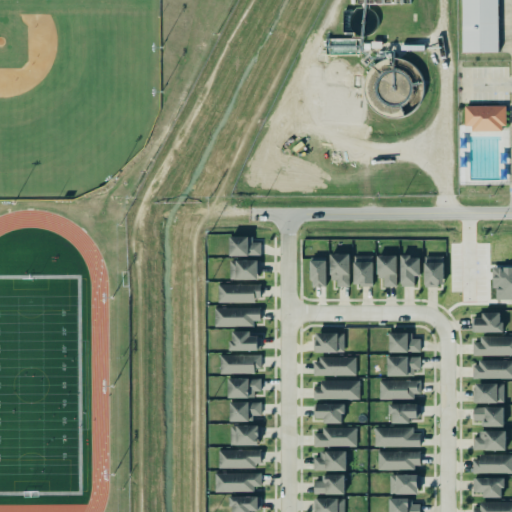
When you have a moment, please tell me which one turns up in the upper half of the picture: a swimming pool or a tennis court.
swimming pool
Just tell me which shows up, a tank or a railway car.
tank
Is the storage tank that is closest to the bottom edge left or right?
right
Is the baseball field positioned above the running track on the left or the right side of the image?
left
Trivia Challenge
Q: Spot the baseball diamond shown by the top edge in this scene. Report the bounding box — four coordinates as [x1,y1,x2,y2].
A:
[0,0,160,198]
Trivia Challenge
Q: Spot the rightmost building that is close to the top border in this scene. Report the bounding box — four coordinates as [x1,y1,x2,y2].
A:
[462,0,500,52]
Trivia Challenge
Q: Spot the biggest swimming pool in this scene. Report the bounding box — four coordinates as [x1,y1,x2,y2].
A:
[460,126,510,185]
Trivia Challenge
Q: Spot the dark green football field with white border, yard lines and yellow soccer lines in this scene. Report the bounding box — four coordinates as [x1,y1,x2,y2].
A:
[0,227,92,504]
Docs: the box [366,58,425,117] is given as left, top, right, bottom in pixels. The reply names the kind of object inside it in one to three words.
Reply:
storage tank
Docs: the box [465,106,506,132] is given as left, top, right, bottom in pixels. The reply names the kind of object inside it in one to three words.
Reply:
building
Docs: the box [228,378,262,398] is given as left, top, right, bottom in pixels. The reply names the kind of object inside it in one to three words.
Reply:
house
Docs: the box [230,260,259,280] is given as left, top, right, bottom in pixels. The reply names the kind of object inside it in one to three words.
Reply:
house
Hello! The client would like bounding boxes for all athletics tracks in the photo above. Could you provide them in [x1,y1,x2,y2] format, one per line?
[0,210,110,512]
